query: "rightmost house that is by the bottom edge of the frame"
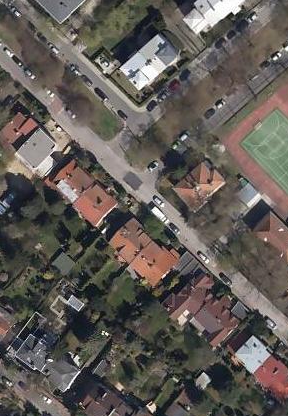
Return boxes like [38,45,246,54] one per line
[252,355,288,399]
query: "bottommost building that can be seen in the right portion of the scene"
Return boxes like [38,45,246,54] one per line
[165,392,190,416]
